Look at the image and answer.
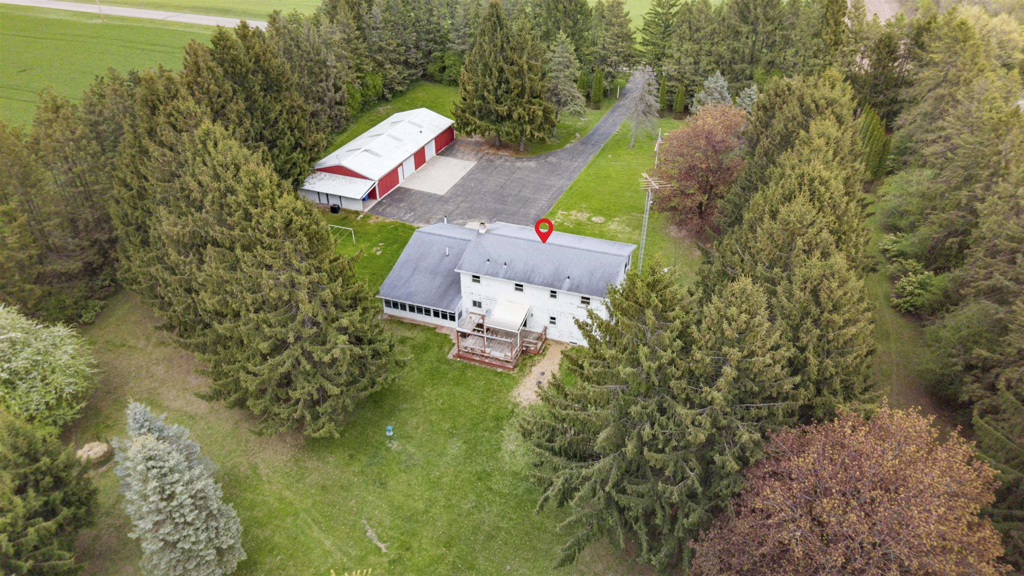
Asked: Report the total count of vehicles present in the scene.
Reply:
zero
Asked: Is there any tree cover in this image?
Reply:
Yes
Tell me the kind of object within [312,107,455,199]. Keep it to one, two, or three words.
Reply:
barn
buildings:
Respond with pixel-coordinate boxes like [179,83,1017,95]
[377,215,638,349]
[312,107,455,199]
